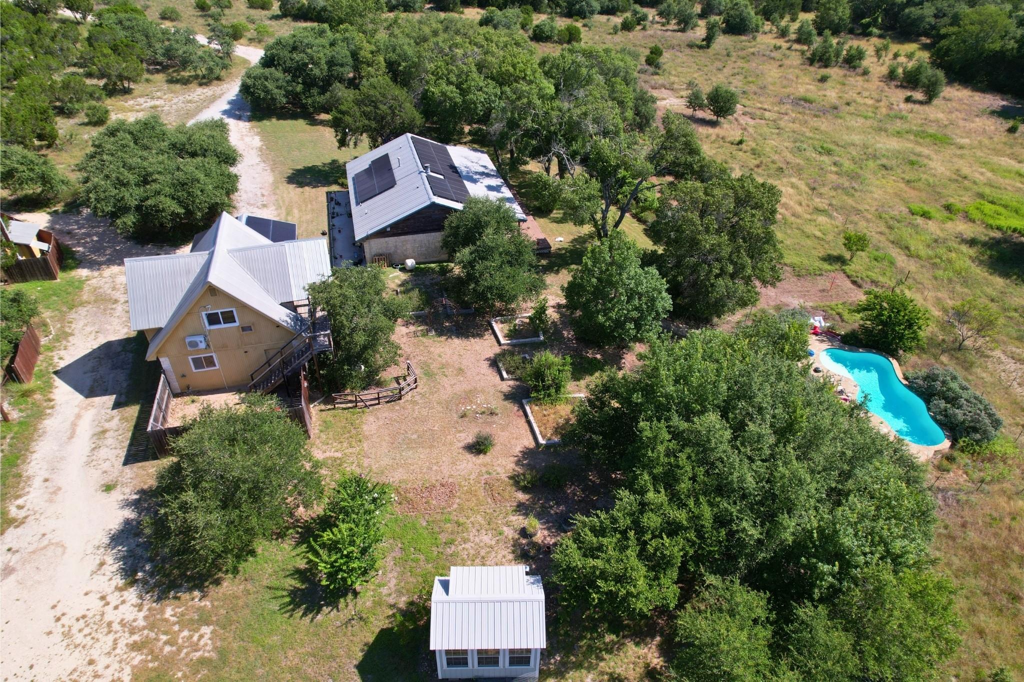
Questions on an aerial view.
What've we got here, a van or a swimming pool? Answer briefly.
swimming pool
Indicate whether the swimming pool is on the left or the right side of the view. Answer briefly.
right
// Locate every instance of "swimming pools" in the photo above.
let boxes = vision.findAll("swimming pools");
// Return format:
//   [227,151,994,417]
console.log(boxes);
[821,348,945,445]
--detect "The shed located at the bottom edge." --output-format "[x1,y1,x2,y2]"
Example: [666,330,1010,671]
[429,566,546,680]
